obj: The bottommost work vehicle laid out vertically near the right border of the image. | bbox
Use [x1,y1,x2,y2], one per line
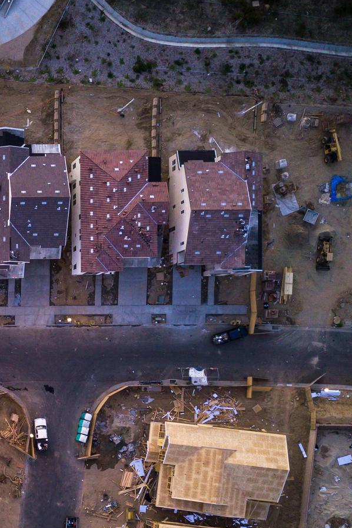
[319,228,340,270]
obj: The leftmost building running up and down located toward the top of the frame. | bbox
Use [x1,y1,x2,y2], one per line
[0,126,72,278]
